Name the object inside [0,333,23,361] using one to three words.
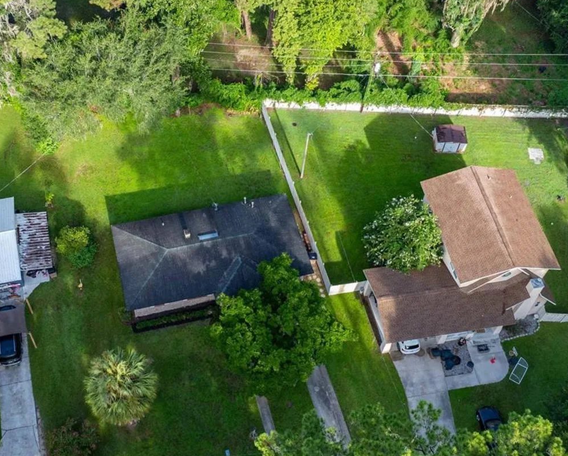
car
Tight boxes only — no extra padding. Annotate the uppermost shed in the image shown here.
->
[432,124,470,153]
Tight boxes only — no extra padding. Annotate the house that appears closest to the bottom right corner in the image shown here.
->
[363,166,562,352]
